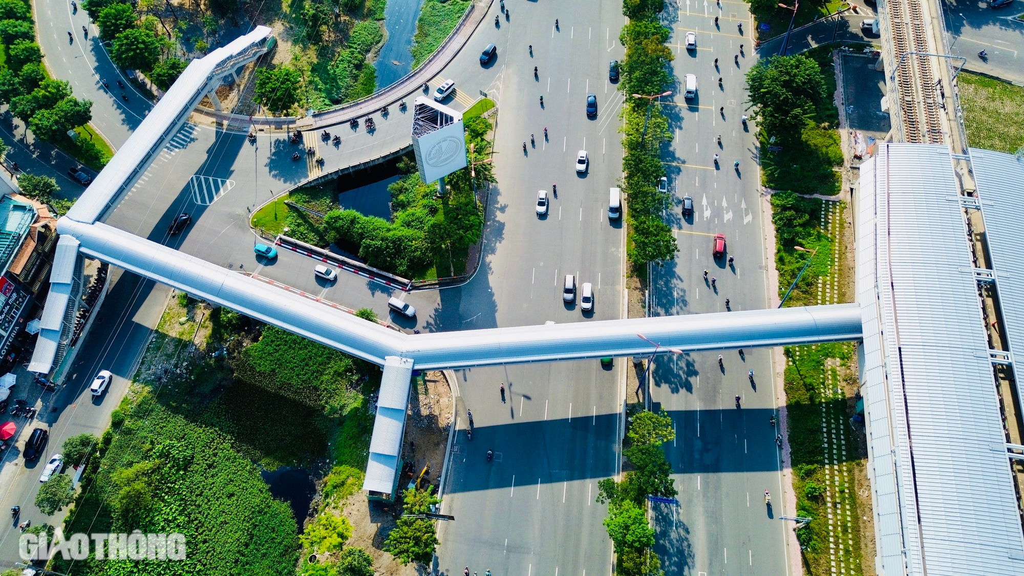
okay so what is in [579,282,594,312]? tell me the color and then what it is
white car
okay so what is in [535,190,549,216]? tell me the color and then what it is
white car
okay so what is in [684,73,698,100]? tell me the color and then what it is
white vehicle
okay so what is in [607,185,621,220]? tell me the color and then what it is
white vehicle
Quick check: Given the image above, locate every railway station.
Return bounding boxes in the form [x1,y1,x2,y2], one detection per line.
[849,136,1024,576]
